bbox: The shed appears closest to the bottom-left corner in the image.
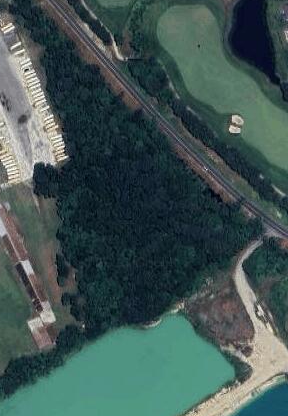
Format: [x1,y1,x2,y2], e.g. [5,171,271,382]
[30,325,53,351]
